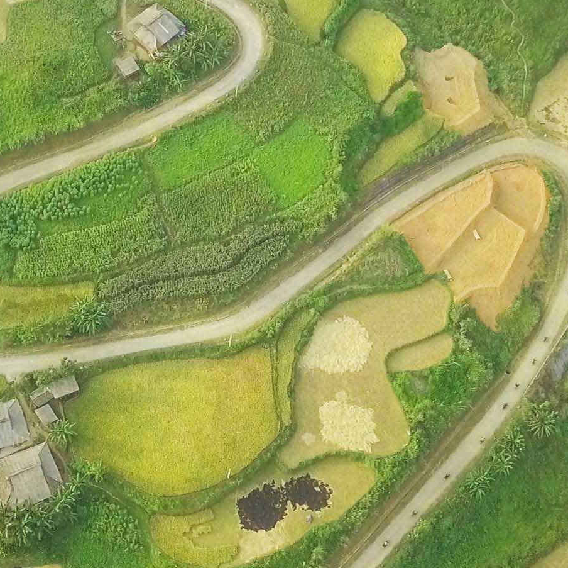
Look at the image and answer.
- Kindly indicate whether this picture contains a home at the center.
No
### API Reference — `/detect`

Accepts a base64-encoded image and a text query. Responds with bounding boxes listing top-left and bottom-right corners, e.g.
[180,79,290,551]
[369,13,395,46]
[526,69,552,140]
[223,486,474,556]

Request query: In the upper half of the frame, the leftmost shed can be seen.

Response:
[114,55,139,79]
